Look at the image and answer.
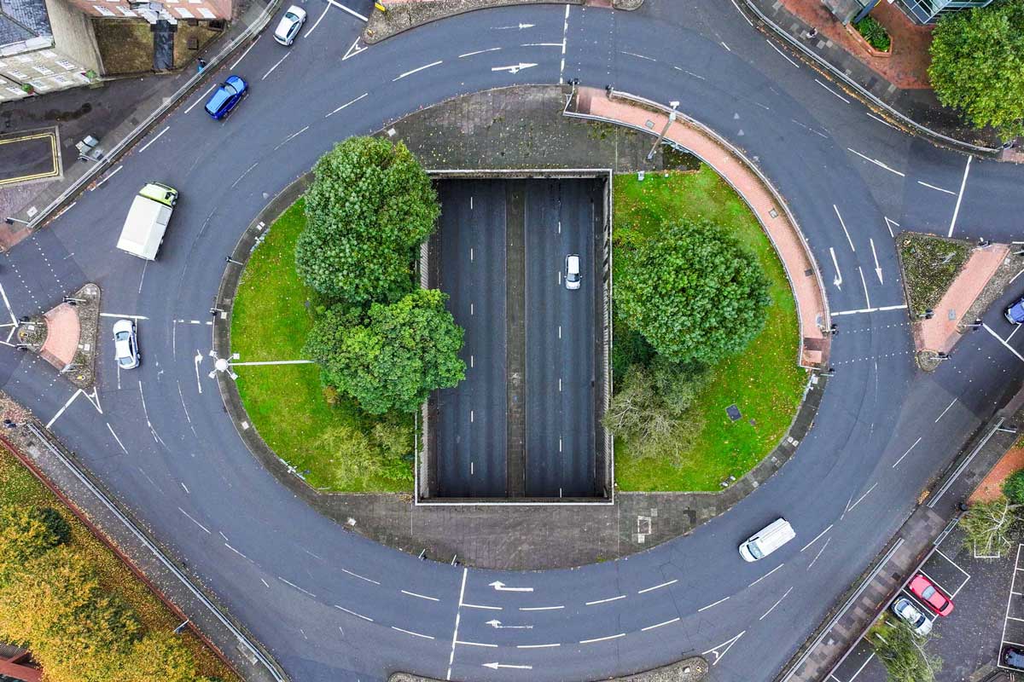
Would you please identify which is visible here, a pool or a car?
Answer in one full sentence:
The image shows a car.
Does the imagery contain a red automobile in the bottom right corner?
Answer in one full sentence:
Yes, a red automobile appears in the bottom right corner.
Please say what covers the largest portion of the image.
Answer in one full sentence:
For the most part, this view shows paved ground.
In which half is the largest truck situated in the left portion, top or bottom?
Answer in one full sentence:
The top half of the photo is where the largest truck situated in the left portion is.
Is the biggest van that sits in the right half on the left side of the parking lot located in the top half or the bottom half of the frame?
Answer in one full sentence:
It is in the bottom half that the biggest van that sits in the right half on the left side of the parking lot appears.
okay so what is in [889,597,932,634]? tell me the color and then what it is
white car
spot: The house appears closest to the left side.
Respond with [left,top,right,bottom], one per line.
[0,0,104,103]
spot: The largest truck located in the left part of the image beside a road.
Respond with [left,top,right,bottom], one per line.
[120,185,182,260]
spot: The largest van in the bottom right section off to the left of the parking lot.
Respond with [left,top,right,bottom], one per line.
[740,519,798,562]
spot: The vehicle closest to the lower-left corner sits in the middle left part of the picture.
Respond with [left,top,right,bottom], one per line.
[112,320,142,369]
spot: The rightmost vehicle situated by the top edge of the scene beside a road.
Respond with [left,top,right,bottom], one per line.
[275,7,307,45]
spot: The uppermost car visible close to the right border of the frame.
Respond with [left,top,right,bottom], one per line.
[1003,295,1024,325]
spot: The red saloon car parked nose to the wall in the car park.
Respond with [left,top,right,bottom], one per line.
[908,575,955,617]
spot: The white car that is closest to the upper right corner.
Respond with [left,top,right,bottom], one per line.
[563,254,582,290]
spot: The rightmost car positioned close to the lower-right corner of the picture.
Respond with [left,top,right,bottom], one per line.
[1002,646,1024,673]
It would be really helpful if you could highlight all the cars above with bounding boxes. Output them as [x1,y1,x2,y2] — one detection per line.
[563,254,582,290]
[275,7,307,45]
[1002,646,1024,673]
[908,575,955,617]
[889,597,932,634]
[205,76,247,122]
[112,320,142,369]
[1003,295,1024,325]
